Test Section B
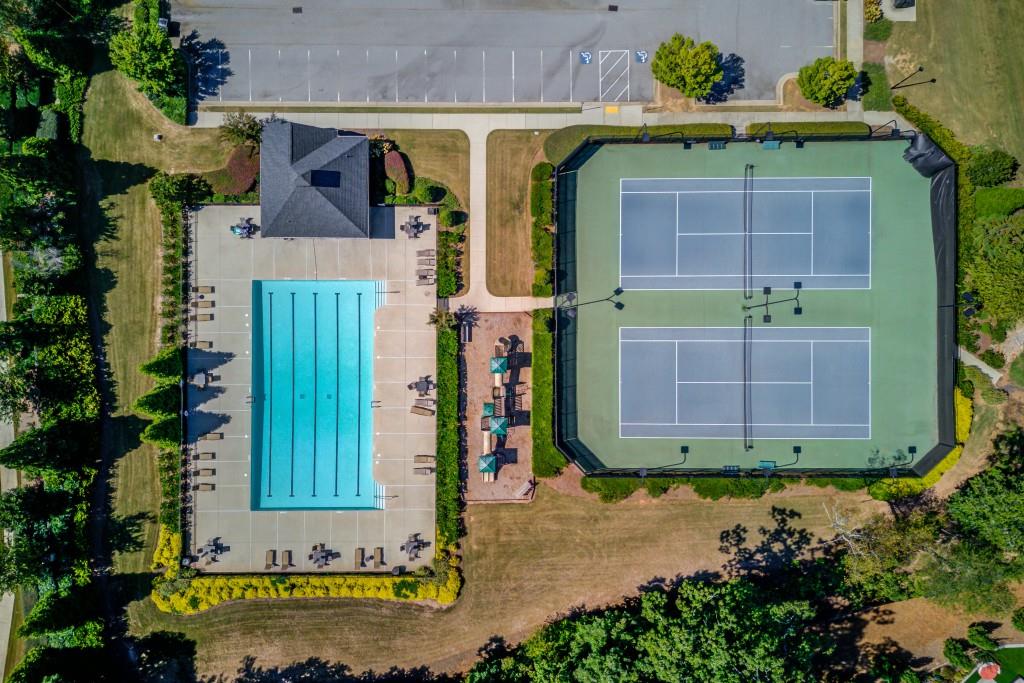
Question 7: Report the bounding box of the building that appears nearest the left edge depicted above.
[260,120,369,239]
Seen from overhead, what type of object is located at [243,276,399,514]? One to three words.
swimming pool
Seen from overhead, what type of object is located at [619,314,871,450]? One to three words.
tennis court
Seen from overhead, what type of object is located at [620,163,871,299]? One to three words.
tennis court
